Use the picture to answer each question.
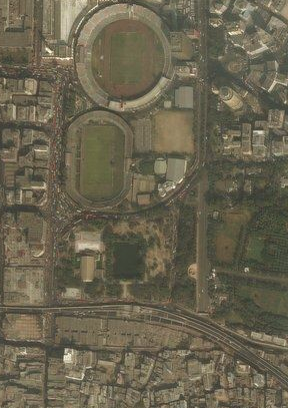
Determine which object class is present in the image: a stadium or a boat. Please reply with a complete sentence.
It is a stadium that can be seen here.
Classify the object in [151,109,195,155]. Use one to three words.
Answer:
sports field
